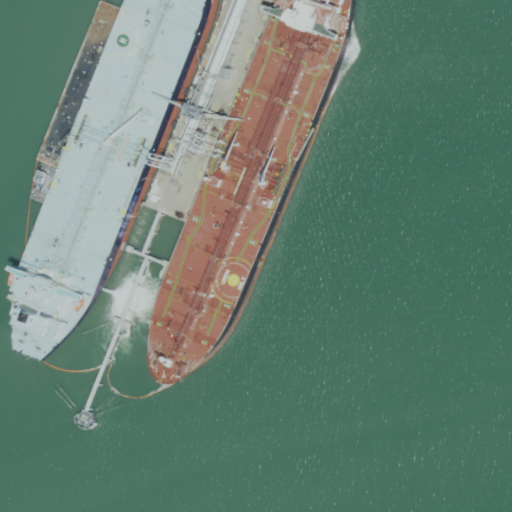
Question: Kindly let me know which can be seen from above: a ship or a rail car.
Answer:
ship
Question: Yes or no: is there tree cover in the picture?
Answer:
No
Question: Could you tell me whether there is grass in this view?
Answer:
No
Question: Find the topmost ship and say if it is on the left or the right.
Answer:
left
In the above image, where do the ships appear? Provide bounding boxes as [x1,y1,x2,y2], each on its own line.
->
[146,0,353,385]
[4,0,220,360]
[37,1,120,167]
